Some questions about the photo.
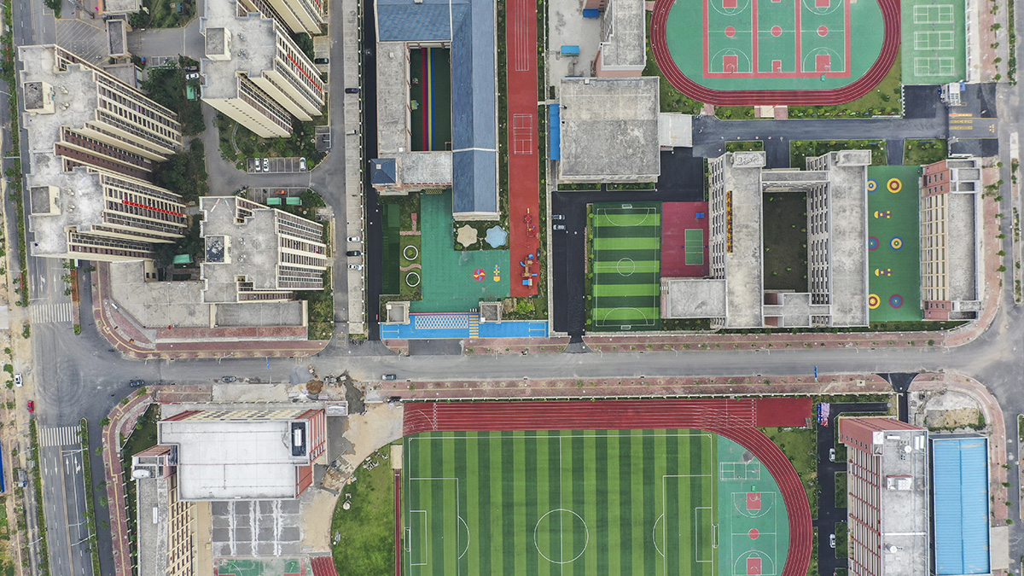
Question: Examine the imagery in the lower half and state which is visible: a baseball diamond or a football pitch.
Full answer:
The one visible in the lower half is a football pitch.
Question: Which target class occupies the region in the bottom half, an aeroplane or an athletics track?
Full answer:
It is an athletics track that can be seen in the bottom half.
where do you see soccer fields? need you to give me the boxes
[592,202,662,331]
[404,430,718,576]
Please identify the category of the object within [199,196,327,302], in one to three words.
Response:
building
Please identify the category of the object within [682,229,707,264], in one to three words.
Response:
sports court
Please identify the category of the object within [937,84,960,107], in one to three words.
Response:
building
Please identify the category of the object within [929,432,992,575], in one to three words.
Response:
shed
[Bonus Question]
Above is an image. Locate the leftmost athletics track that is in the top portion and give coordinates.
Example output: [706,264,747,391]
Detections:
[507,0,540,297]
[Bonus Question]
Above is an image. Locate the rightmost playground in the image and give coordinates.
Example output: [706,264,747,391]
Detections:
[868,166,922,322]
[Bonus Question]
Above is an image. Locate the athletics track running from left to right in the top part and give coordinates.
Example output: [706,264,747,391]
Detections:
[651,0,901,105]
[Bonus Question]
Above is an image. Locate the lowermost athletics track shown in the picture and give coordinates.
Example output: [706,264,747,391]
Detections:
[314,398,812,576]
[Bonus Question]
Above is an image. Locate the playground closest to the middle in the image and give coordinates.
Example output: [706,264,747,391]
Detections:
[411,188,509,313]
